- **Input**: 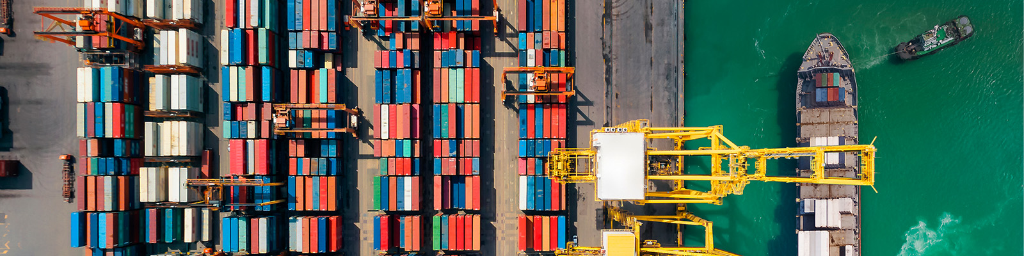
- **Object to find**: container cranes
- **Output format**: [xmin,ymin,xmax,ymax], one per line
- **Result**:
[349,0,432,39]
[33,7,144,53]
[502,64,574,108]
[548,202,763,256]
[423,0,501,39]
[548,118,879,209]
[270,102,362,142]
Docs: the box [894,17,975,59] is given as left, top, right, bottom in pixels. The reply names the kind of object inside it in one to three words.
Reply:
boat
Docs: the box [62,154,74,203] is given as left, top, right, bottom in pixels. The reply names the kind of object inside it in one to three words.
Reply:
vehicle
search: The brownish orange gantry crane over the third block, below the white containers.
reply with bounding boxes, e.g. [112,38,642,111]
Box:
[188,174,285,209]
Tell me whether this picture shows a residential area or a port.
port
